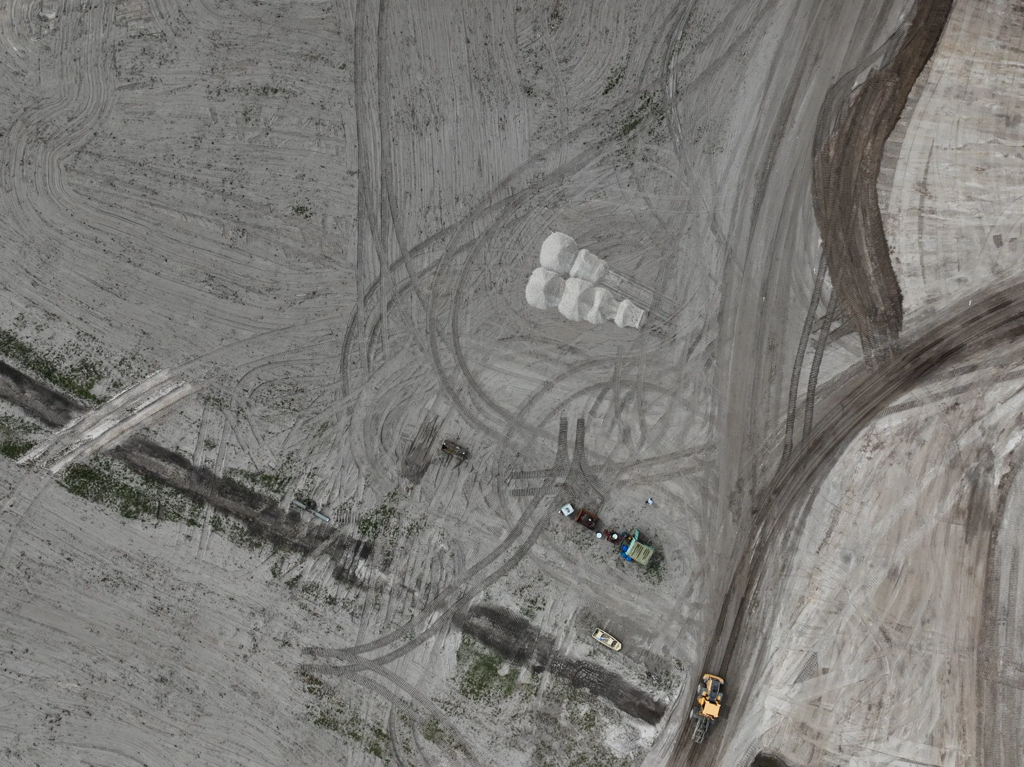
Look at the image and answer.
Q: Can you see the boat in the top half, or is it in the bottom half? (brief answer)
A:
bottom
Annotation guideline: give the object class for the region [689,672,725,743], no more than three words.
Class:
work vehicle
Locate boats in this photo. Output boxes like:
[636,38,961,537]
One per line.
[592,628,621,651]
